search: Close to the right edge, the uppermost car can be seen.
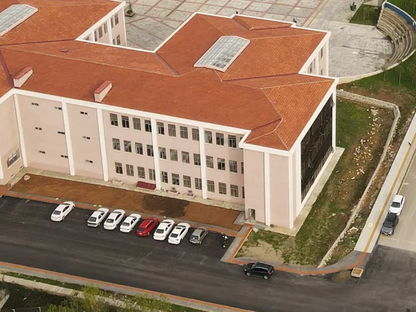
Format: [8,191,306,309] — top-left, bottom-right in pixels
[389,192,406,213]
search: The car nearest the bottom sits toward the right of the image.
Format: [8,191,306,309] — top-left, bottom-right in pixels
[241,261,276,280]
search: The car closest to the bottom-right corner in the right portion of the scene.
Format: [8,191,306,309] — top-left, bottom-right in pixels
[381,210,399,235]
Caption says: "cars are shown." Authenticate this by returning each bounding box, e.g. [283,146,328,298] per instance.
[241,261,276,280]
[135,214,159,236]
[101,208,127,229]
[381,210,399,235]
[151,217,177,239]
[389,192,406,213]
[85,205,110,226]
[185,224,209,244]
[48,200,75,220]
[167,220,192,243]
[117,210,143,231]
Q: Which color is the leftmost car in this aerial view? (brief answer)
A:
white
